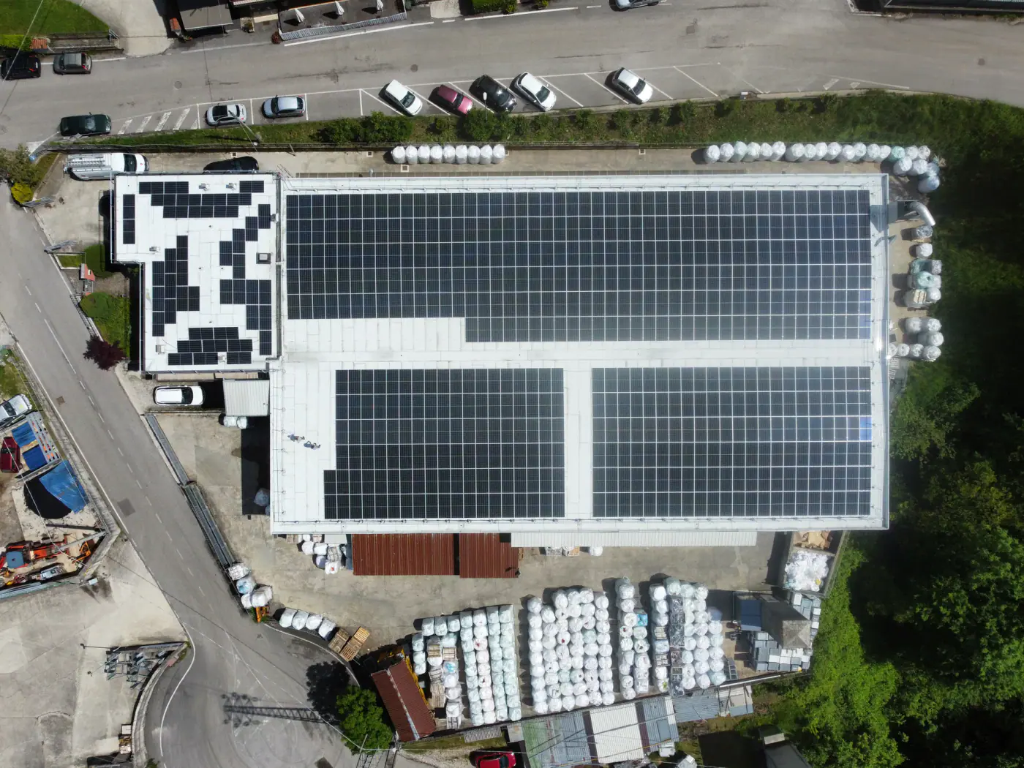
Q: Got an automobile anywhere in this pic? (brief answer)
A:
Yes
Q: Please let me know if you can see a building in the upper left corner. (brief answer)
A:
Yes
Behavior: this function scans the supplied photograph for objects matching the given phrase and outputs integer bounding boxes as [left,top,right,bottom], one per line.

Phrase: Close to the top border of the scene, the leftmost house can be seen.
[158,0,251,40]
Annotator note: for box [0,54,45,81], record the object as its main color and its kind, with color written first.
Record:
black car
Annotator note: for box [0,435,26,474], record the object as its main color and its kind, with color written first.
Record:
red car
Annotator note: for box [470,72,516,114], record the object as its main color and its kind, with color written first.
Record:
black car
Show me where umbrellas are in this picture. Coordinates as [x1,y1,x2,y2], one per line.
[335,1,345,17]
[294,9,305,24]
[374,0,383,12]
